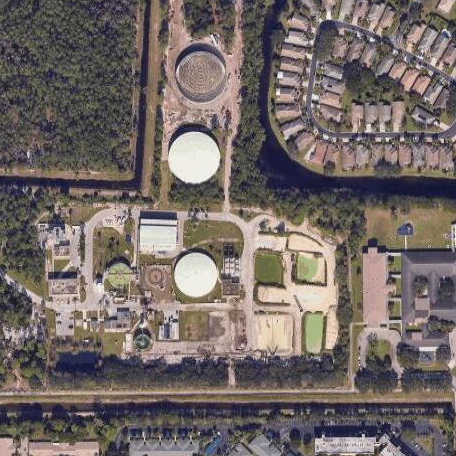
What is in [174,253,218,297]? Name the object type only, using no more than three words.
storage tank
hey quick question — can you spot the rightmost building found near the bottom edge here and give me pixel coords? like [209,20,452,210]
[375,435,407,456]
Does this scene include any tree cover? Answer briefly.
Yes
